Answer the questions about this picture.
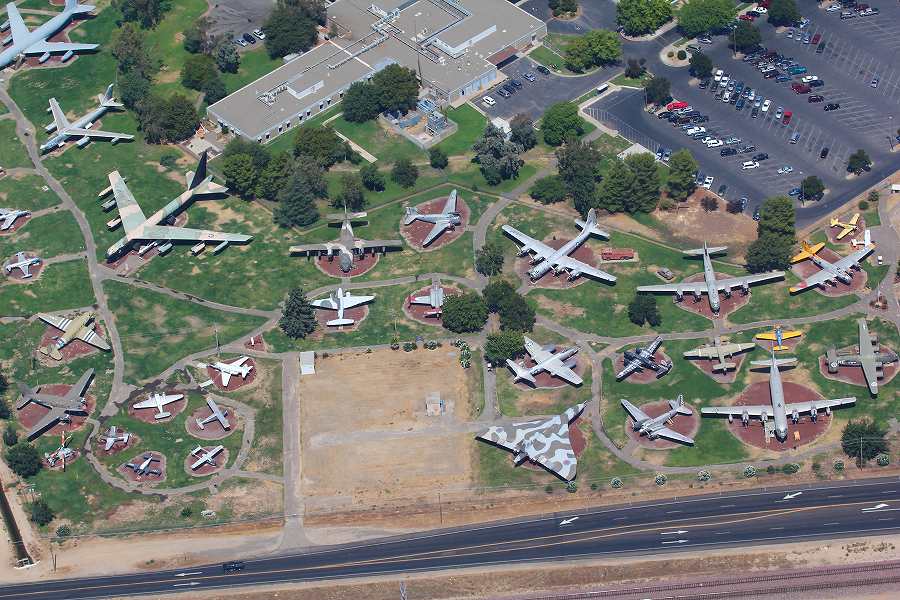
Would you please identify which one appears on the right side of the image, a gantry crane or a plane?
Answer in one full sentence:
The one visible on the right side of the image is a plane.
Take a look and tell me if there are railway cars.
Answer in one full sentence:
No, I find no railway car anywhere in the image.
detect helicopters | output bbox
[47,435,76,465]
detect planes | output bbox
[0,0,99,69]
[197,399,232,429]
[125,452,163,478]
[827,316,899,389]
[684,336,756,372]
[47,86,134,151]
[475,402,589,480]
[189,444,223,467]
[756,325,801,349]
[787,236,878,289]
[34,311,111,353]
[621,394,697,439]
[209,357,256,386]
[311,286,374,322]
[830,213,860,236]
[99,425,130,449]
[637,233,785,312]
[504,335,584,380]
[854,231,879,253]
[502,213,616,283]
[134,390,184,416]
[405,279,467,311]
[403,188,462,242]
[105,156,256,261]
[16,367,93,435]
[4,251,42,277]
[617,335,672,375]
[290,207,402,274]
[701,342,857,441]
[0,206,36,225]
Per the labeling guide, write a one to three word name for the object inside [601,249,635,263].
vehicle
